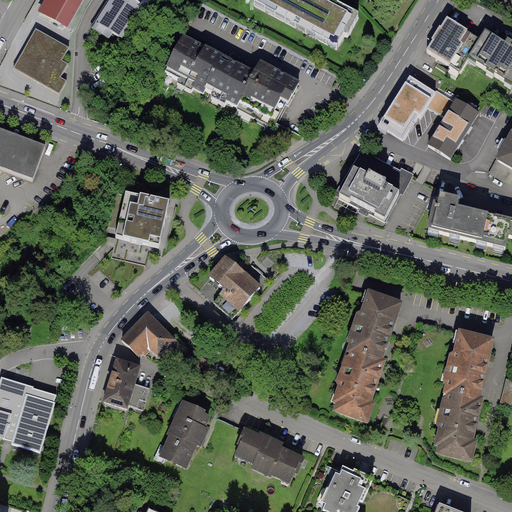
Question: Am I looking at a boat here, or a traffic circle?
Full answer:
Visible in the photo is a traffic circle.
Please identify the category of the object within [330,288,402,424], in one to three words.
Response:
building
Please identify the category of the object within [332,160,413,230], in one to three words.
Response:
building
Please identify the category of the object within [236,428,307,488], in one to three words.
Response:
house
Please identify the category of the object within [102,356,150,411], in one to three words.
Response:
house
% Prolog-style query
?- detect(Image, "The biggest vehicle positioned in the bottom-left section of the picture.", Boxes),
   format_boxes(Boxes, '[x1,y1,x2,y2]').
[88,356,102,390]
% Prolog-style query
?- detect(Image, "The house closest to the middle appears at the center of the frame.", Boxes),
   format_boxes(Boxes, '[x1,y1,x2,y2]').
[209,256,257,313]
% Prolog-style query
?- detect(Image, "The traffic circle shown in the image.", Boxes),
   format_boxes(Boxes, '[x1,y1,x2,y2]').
[203,166,304,246]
